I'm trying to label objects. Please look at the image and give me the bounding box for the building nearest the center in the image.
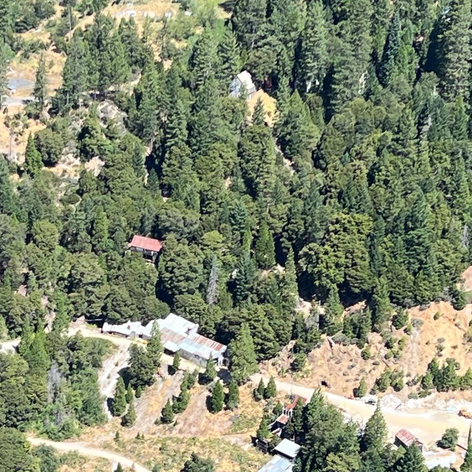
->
[129,234,164,263]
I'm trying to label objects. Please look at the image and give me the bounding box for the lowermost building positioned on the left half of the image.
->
[102,311,230,372]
